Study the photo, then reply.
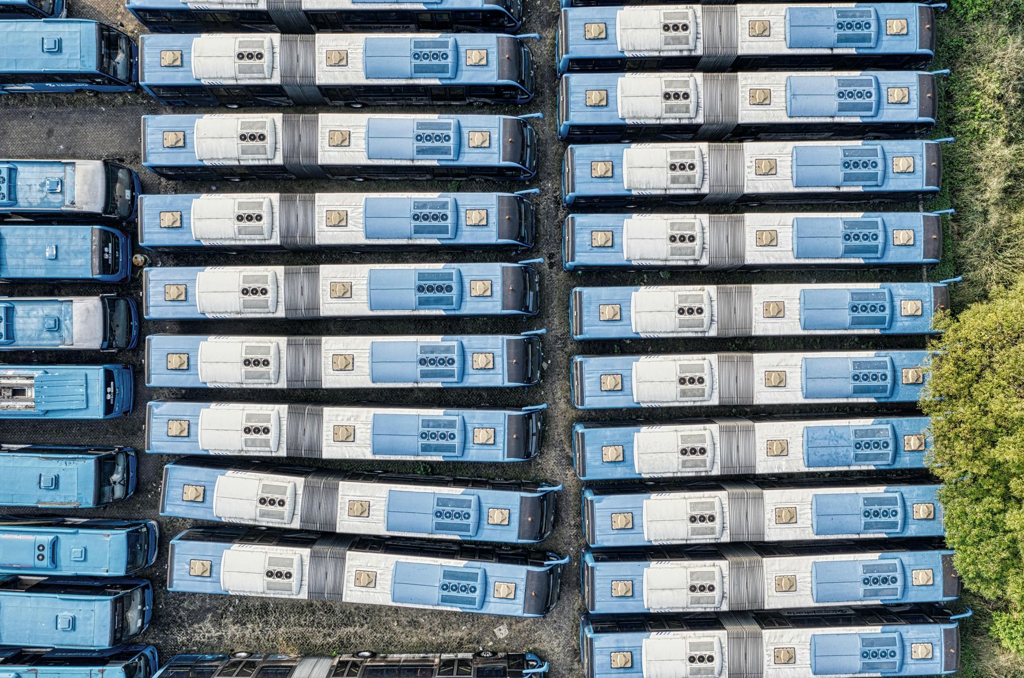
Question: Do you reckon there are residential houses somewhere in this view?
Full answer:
No, there's no residential house here.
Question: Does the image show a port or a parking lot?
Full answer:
This image shows a parking lot.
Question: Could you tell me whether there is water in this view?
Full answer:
No, there is no water in the image.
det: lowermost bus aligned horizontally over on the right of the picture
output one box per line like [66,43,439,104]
[576,601,980,678]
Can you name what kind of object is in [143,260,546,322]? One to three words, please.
bus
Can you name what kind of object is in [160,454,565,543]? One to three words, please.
bus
